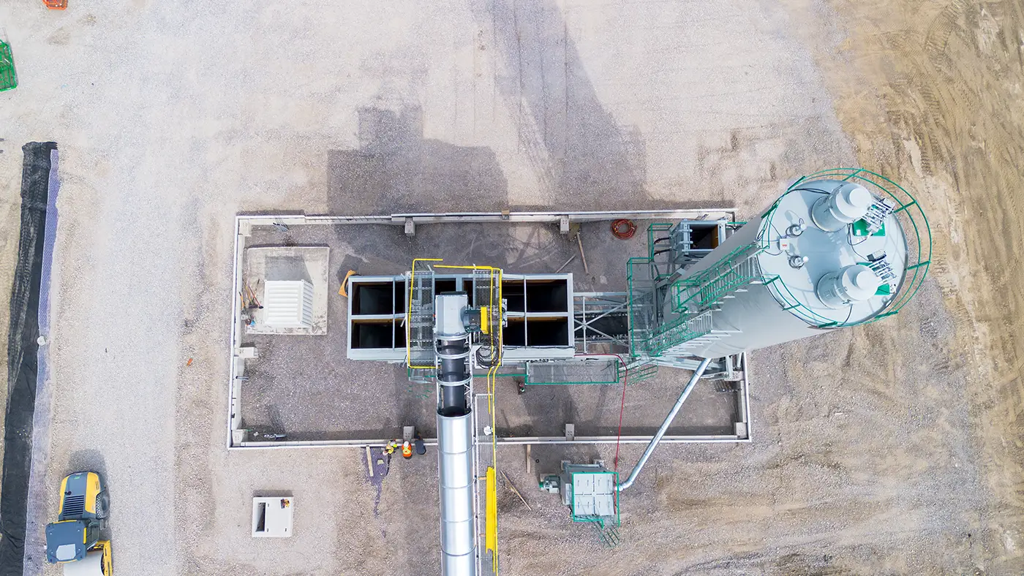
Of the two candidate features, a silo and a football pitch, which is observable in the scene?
silo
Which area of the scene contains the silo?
right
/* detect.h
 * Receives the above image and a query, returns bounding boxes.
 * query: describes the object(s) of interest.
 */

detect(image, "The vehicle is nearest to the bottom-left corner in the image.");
[42,465,117,576]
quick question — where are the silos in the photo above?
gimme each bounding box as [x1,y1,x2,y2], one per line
[624,169,929,381]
